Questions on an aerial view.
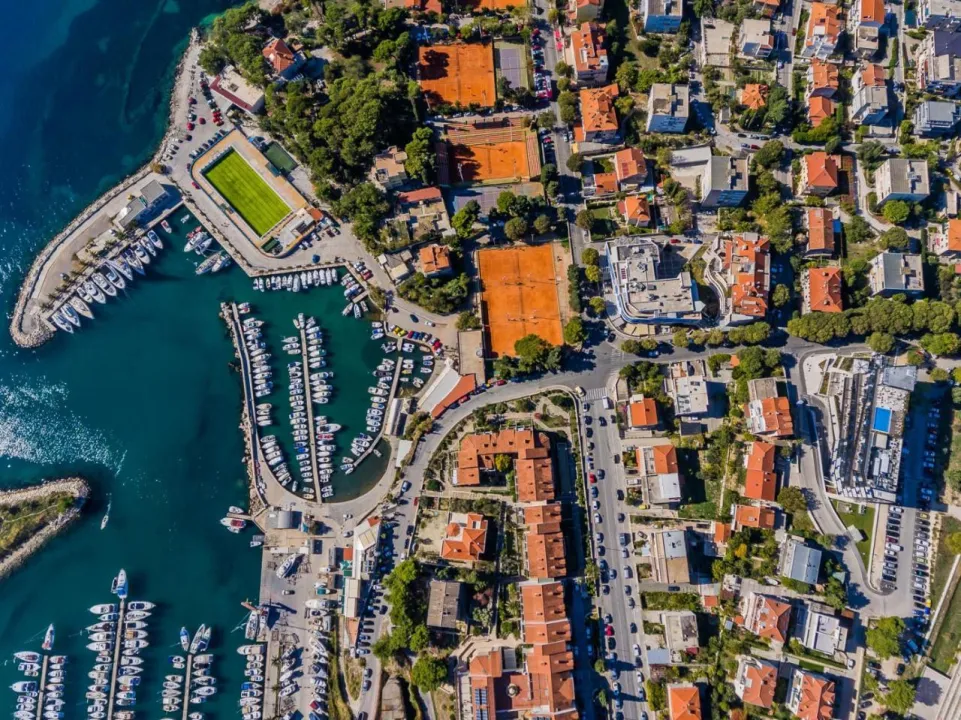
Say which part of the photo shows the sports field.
top left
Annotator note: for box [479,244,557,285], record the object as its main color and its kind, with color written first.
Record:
orange tennis court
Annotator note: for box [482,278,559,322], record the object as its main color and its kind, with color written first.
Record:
orange tennis court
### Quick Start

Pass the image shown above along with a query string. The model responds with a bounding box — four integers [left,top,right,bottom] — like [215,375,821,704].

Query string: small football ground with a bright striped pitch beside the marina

[189,125,313,258]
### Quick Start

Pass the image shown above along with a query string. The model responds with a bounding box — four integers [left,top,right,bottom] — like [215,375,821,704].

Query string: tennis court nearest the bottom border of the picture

[485,313,563,357]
